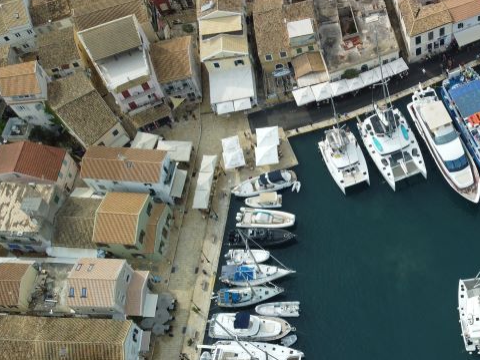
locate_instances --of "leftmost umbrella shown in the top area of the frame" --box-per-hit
[131,133,160,149]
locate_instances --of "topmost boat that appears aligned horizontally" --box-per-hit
[231,169,301,194]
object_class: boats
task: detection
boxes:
[398,81,480,215]
[293,178,302,192]
[246,192,284,210]
[235,211,296,228]
[320,96,371,203]
[457,273,480,354]
[359,34,426,194]
[257,302,304,316]
[225,227,295,245]
[212,267,285,306]
[281,336,297,348]
[189,313,301,344]
[185,317,304,360]
[231,169,301,194]
[214,232,306,287]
